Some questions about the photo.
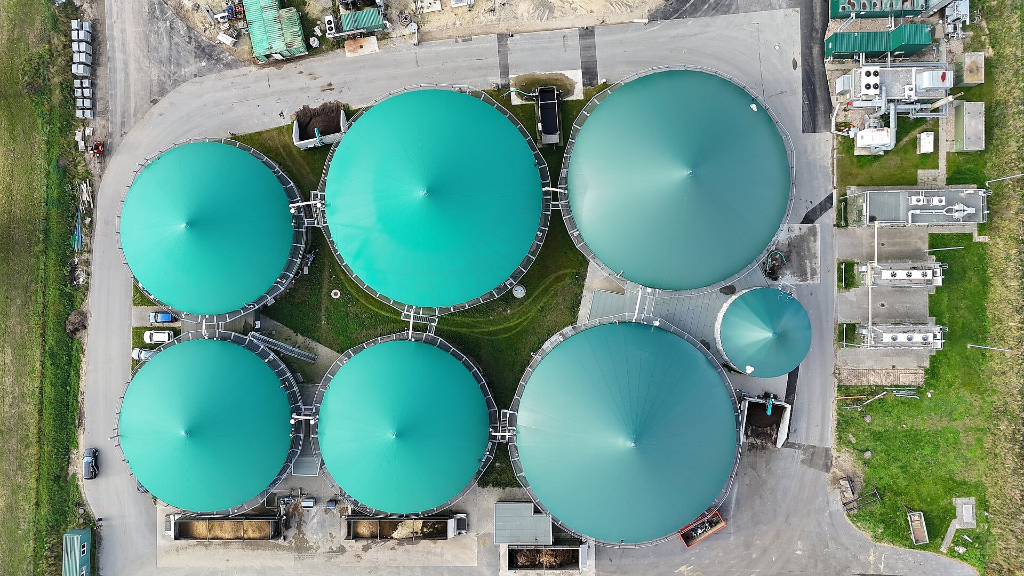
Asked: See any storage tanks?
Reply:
Yes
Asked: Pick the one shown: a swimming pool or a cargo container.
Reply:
cargo container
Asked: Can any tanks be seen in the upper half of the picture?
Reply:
Yes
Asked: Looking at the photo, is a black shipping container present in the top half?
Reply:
Yes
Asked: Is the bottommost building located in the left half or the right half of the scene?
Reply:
left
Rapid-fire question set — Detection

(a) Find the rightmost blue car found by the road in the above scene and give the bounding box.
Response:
[151,310,177,324]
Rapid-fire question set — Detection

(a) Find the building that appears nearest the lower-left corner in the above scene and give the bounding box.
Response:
[62,529,92,576]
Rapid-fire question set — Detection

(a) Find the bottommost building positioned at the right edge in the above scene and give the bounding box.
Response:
[952,102,985,153]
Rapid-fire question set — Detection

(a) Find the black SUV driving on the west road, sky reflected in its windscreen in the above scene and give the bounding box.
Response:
[82,447,101,479]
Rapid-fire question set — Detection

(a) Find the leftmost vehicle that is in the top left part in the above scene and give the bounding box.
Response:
[91,143,106,155]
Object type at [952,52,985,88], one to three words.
building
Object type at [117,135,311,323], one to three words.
storage tank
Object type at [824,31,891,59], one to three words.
building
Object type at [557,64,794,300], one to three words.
storage tank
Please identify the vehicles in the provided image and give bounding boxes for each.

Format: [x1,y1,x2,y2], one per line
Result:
[82,447,101,479]
[91,143,106,155]
[151,310,177,324]
[144,330,175,344]
[130,347,155,361]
